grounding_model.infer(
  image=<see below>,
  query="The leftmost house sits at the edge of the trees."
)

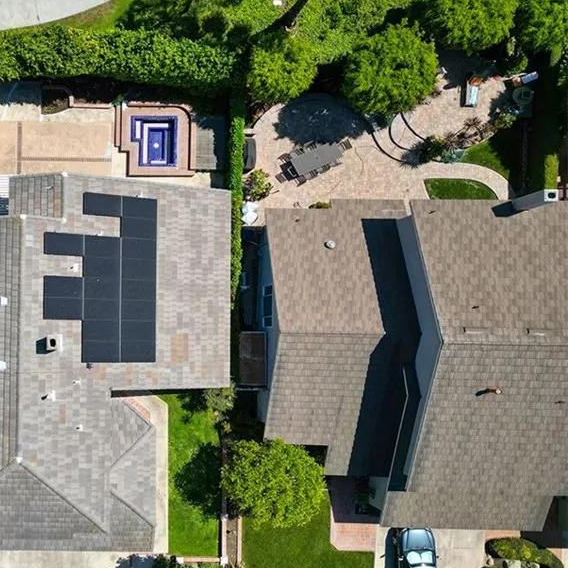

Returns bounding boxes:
[0,174,232,552]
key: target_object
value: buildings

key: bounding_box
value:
[256,187,568,528]
[0,174,232,552]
